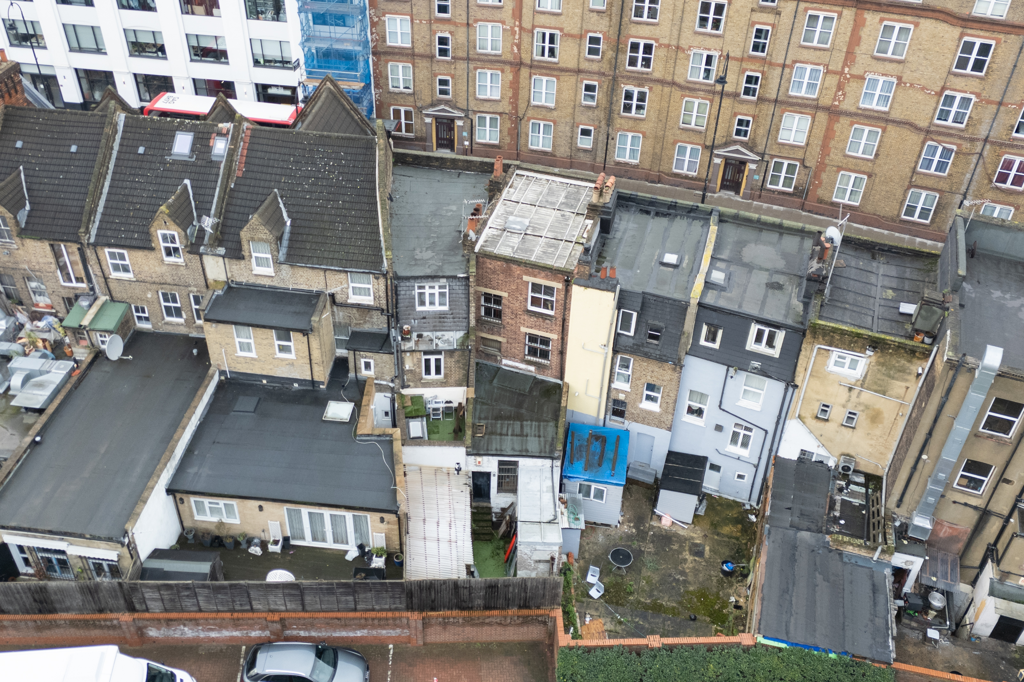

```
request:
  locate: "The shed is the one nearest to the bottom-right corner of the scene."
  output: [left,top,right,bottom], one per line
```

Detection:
[967,573,1024,648]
